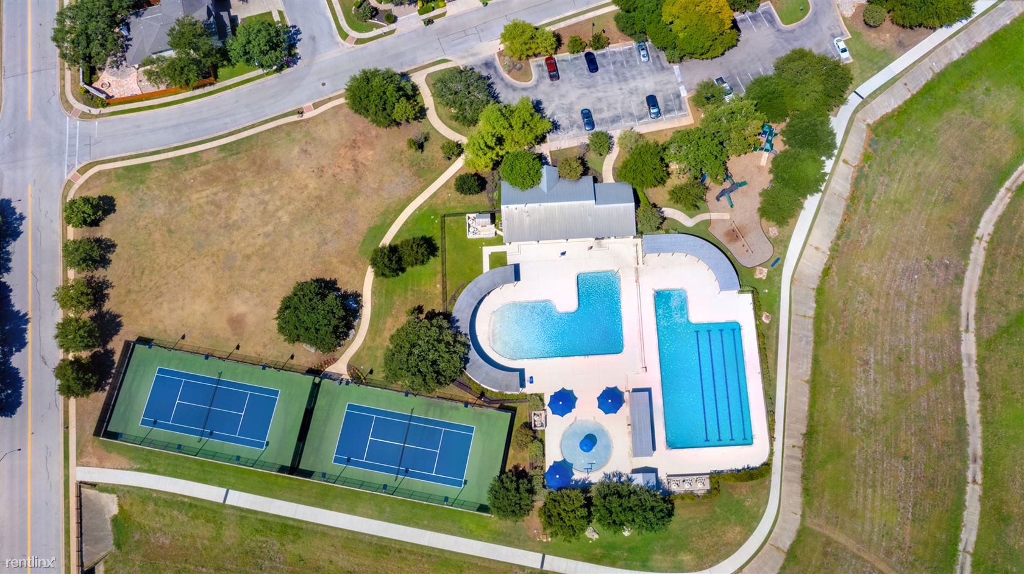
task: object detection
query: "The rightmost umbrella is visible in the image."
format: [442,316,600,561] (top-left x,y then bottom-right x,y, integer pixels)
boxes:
[596,387,623,415]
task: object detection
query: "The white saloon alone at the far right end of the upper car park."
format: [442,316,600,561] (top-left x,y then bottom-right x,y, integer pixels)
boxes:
[834,37,850,59]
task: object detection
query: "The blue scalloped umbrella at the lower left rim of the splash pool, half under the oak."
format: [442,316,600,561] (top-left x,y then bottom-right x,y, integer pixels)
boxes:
[542,461,572,490]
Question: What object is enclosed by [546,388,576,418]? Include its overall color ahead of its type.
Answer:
blue umbrella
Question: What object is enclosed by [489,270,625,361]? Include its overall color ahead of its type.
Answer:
blue swimming pool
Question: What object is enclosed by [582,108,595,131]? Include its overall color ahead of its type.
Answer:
blue vehicle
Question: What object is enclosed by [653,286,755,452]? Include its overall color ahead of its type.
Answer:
blue swimming pool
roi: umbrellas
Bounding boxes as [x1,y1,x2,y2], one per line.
[542,461,572,490]
[596,387,623,415]
[546,388,576,418]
